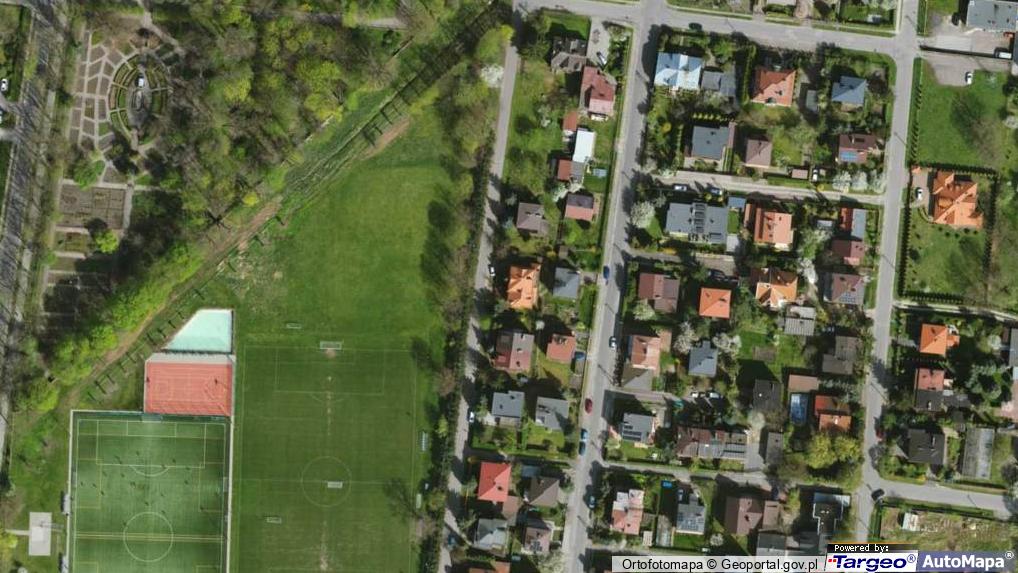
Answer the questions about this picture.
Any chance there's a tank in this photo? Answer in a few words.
No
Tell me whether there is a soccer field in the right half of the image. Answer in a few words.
No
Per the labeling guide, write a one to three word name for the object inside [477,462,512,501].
house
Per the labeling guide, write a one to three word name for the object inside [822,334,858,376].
house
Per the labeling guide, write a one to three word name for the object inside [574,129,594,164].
building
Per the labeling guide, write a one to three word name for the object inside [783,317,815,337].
shed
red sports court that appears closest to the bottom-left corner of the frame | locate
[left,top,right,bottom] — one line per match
[144,360,231,413]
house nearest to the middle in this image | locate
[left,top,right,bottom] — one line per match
[507,262,541,310]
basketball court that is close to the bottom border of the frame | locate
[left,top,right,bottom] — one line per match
[29,512,52,556]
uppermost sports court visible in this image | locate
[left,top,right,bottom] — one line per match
[163,308,233,351]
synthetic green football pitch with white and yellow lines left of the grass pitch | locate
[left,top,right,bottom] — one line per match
[67,360,235,573]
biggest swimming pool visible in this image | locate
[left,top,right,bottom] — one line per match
[790,393,807,424]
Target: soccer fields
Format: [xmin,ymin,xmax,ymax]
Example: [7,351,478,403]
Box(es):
[232,340,424,573]
[67,360,235,573]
